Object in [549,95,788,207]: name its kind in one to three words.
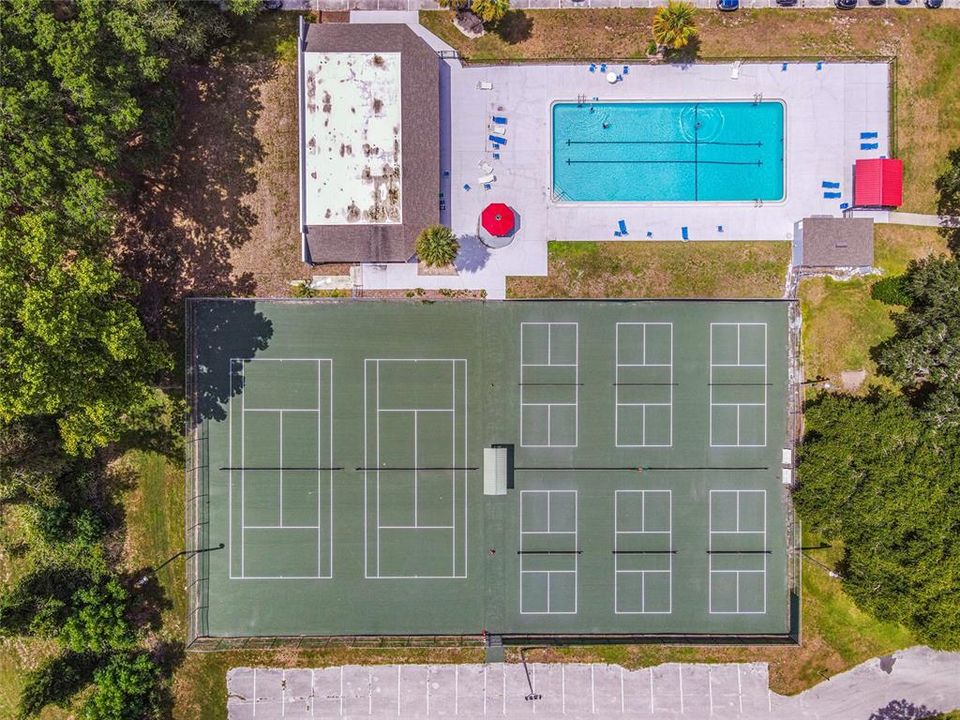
swimming pool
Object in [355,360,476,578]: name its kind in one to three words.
tennis court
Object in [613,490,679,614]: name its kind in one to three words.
sports court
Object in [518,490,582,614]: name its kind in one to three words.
sports court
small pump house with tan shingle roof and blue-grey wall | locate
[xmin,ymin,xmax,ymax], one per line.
[794,214,874,274]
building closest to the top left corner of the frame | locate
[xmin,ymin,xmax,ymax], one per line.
[300,15,441,269]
